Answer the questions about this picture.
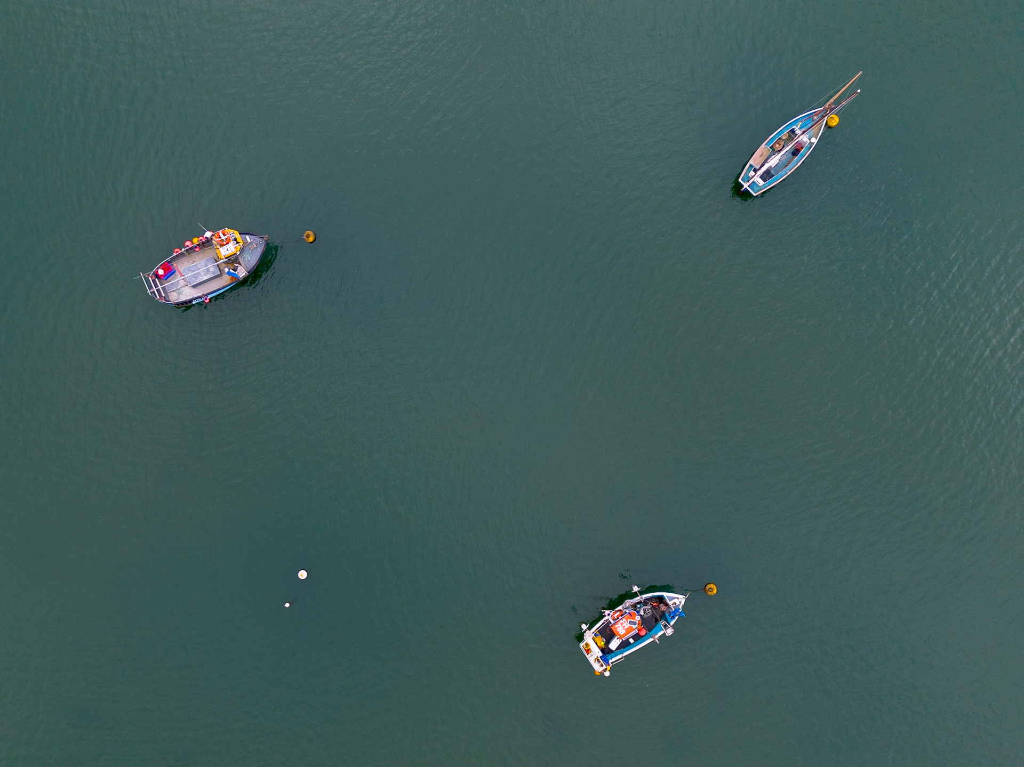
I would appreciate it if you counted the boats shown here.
three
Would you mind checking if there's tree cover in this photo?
No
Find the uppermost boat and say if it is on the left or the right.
right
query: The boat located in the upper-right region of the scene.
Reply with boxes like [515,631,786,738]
[738,71,863,196]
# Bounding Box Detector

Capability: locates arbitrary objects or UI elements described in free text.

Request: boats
[738,71,863,196]
[579,585,691,671]
[140,223,270,305]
